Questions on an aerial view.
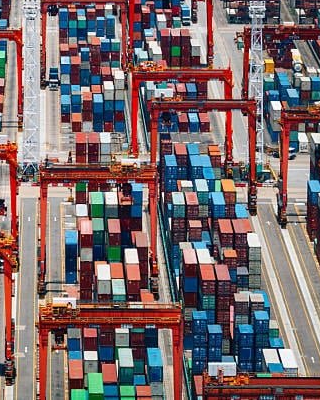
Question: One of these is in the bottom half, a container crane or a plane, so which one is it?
container crane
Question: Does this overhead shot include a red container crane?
Yes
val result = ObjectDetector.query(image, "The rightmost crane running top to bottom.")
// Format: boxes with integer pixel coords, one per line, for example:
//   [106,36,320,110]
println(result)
[275,104,320,224]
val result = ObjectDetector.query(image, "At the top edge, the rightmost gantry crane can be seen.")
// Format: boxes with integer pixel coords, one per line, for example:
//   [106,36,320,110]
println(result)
[236,16,320,125]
